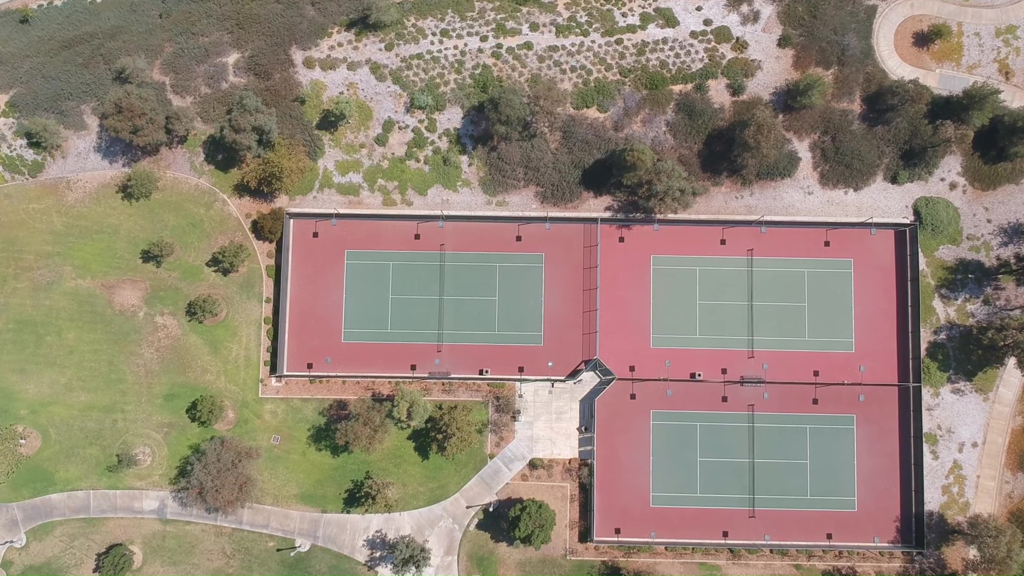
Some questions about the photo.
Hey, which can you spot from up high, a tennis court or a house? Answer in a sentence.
Looking from above, you can make out a tennis court.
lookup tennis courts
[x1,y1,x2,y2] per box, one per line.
[597,221,911,382]
[591,377,914,545]
[284,217,596,378]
